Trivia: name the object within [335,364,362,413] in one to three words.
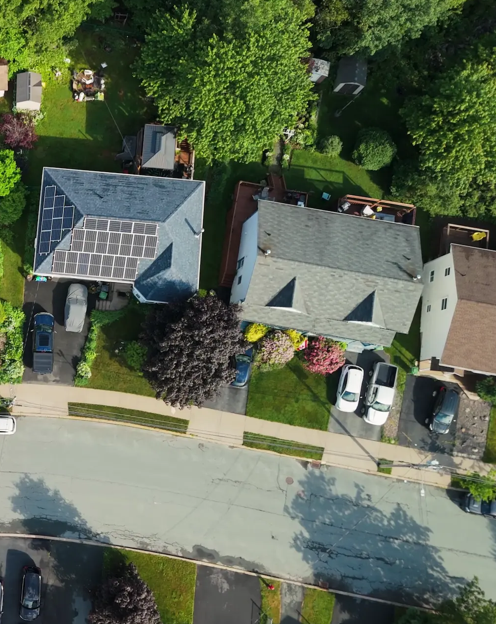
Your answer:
car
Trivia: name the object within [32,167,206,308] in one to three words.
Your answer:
house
